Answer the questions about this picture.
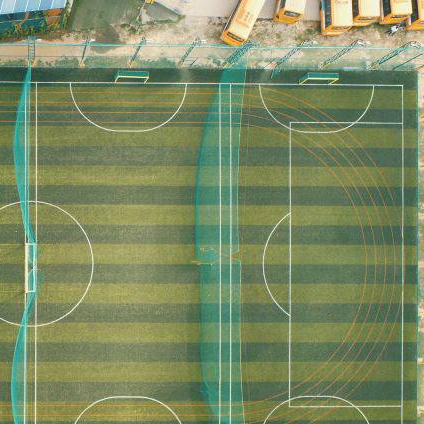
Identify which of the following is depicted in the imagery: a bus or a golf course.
bus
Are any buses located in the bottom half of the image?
No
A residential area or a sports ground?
sports ground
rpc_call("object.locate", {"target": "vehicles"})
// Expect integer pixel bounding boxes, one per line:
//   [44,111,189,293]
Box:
[406,0,424,31]
[321,0,353,37]
[350,0,380,27]
[276,0,307,25]
[380,0,413,24]
[220,0,264,50]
